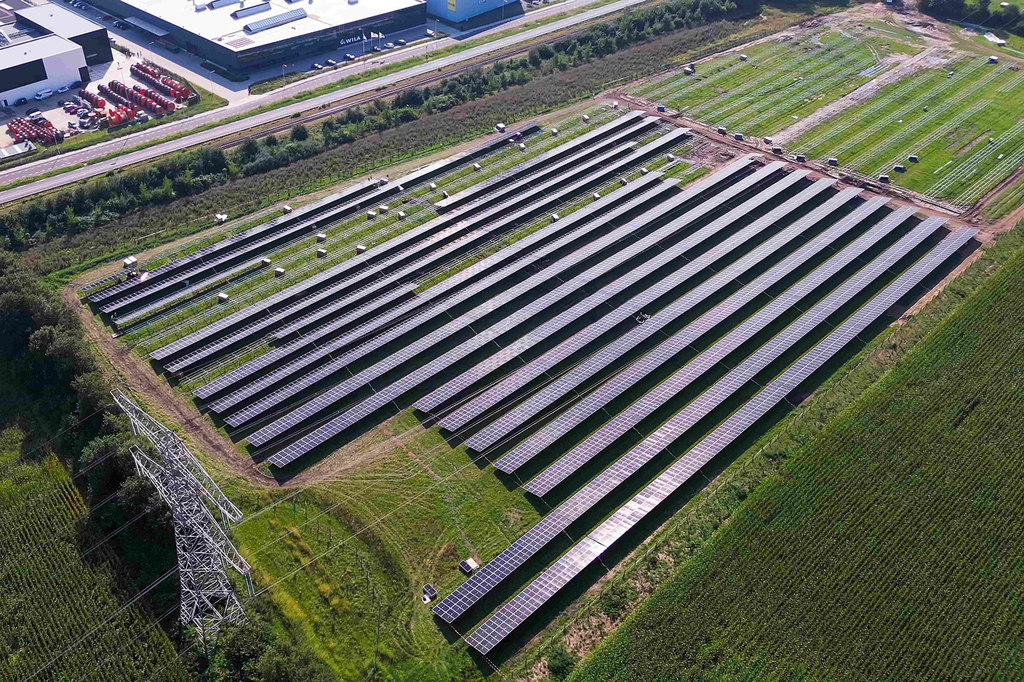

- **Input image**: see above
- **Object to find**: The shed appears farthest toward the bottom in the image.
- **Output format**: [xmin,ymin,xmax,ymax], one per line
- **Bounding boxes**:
[0,141,40,169]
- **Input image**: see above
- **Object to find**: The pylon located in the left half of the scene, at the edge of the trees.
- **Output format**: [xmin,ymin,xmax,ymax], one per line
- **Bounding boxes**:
[110,394,267,646]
